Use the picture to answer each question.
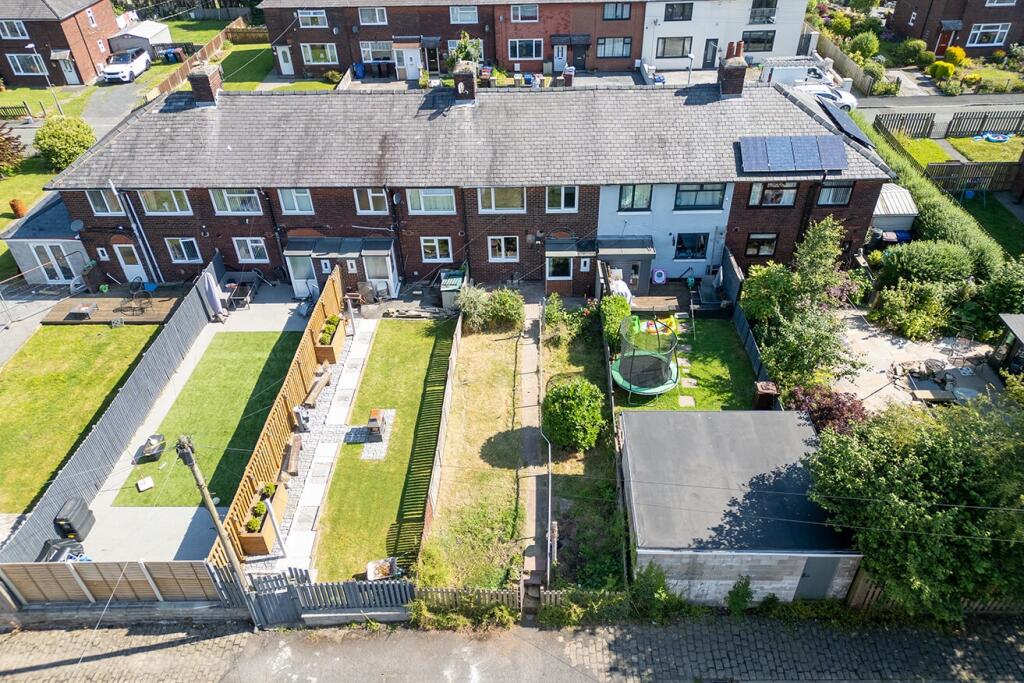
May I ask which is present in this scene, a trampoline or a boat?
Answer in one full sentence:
The one in the frame is a trampoline.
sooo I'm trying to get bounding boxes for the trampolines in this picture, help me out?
[610,317,681,408]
